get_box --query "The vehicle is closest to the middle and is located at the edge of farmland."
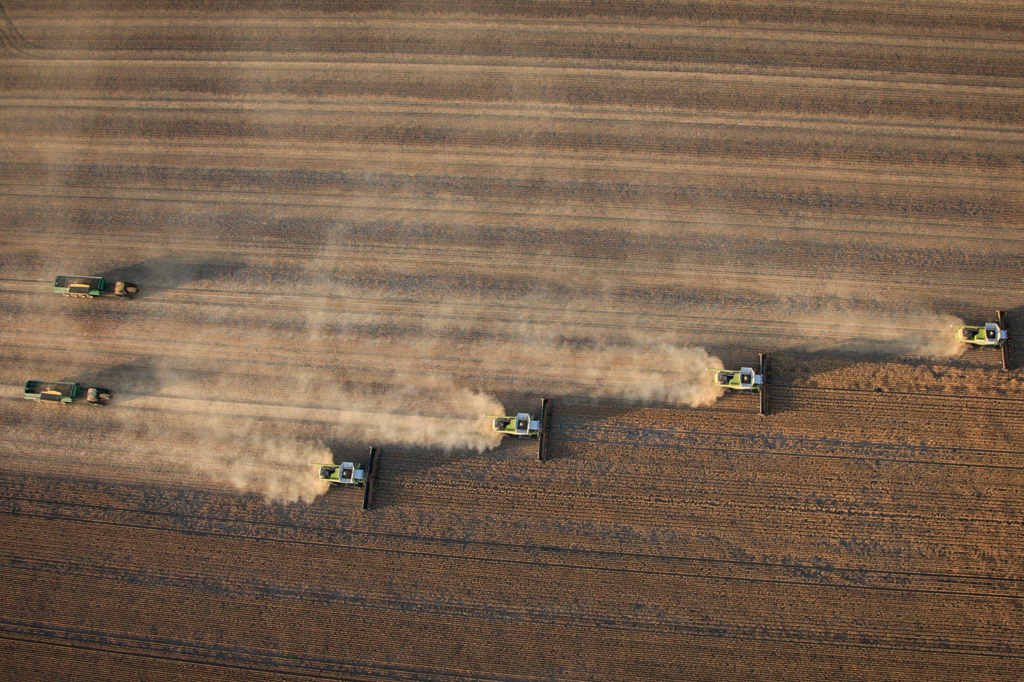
[482,398,554,461]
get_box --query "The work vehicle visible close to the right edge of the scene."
[947,309,1015,371]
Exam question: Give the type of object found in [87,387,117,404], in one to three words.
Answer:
work vehicle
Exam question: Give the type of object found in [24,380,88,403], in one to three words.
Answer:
trailer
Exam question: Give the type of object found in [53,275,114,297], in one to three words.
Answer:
trailer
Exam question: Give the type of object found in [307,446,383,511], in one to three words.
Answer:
work vehicle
